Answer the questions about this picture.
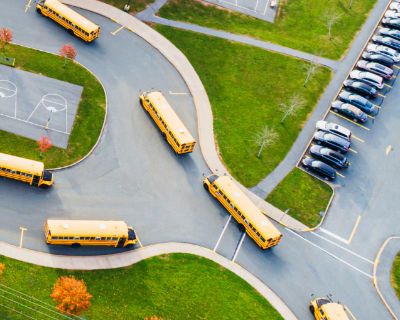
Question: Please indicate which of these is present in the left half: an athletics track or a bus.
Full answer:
The one visible in the left half is a bus.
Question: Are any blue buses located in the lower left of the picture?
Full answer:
No, no blue bus can be made out in the lower left of the picture.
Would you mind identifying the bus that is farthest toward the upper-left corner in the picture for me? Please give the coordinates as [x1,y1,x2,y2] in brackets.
[33,0,100,48]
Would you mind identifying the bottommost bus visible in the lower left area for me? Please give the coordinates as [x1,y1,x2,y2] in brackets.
[42,222,142,249]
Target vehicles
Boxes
[379,27,400,40]
[387,11,400,19]
[309,146,348,169]
[349,68,385,89]
[371,34,400,54]
[361,51,395,69]
[305,287,347,320]
[384,18,400,31]
[201,172,280,253]
[313,132,352,155]
[339,92,375,113]
[342,79,379,99]
[42,222,142,249]
[33,0,100,48]
[139,89,195,158]
[301,158,340,182]
[315,120,352,141]
[0,155,58,191]
[331,101,367,122]
[358,60,393,80]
